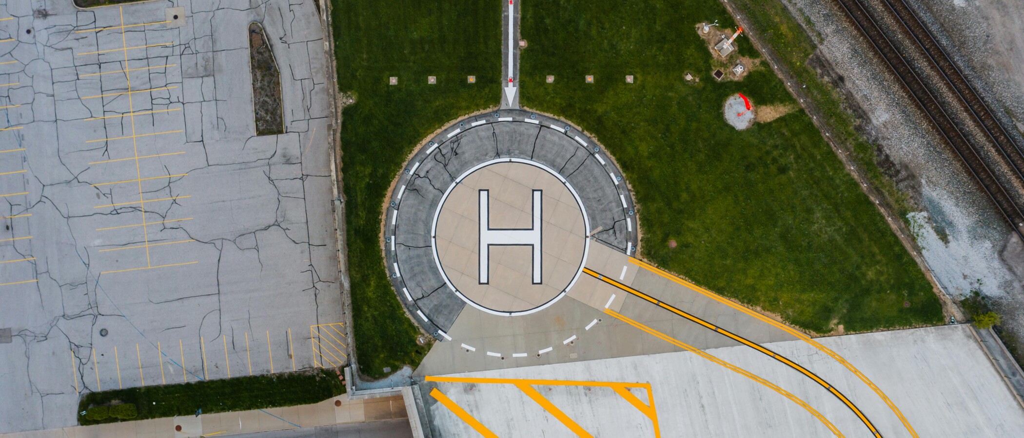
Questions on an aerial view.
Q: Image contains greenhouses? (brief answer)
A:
No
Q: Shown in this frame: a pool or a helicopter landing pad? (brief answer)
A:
helicopter landing pad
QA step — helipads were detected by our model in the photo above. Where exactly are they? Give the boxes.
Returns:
[384,111,637,358]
